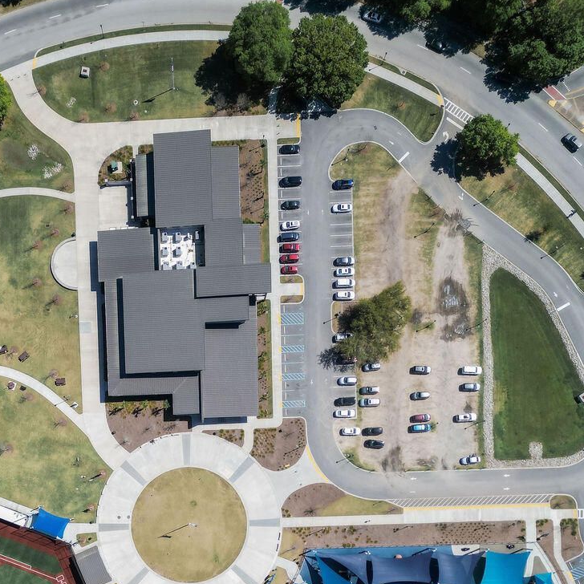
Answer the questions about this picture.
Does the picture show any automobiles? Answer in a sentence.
Yes, there's an automobile here.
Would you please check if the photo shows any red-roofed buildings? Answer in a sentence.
No, there isn't any red-roofed building down there.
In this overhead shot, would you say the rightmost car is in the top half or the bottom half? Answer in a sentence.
Seen from above, the rightmost car lies in the top half of the view.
